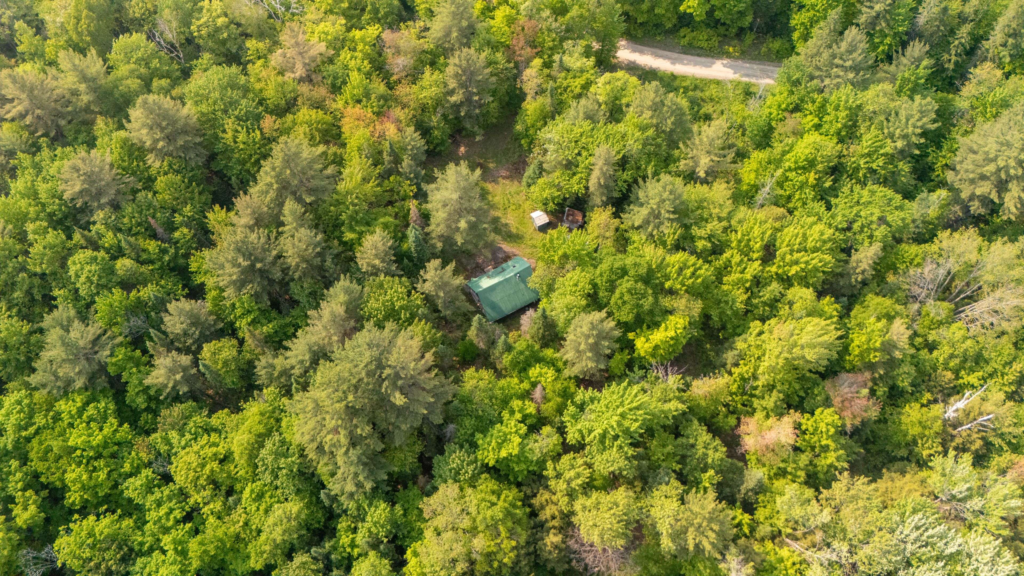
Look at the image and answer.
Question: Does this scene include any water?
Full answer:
No, no water is visible.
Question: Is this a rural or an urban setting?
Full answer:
The land in this view is best described as rural.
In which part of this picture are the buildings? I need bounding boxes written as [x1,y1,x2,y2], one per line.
[562,208,584,230]
[530,210,549,230]
[469,257,537,323]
